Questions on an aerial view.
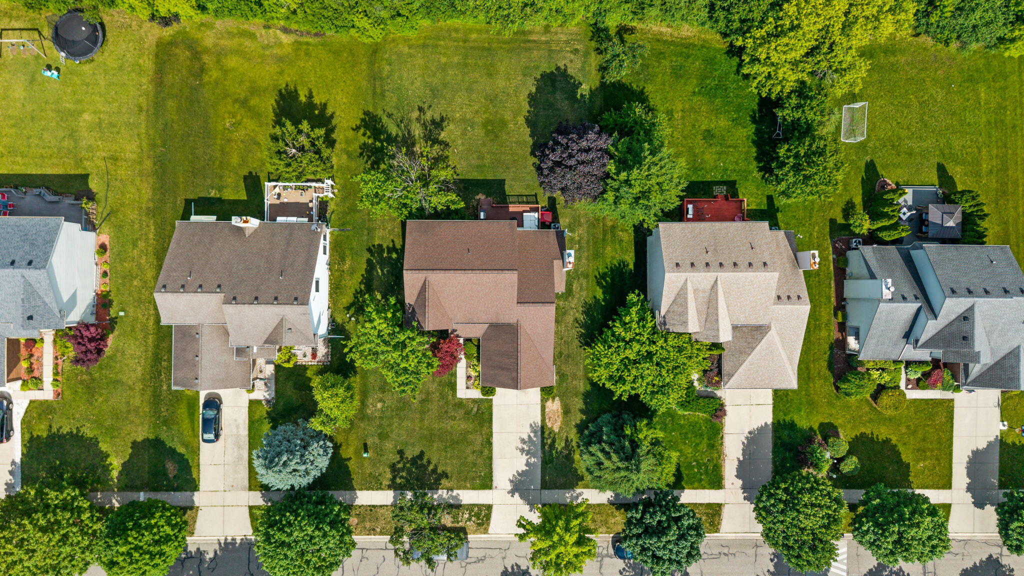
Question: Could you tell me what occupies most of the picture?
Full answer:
The scene is dominated by grass.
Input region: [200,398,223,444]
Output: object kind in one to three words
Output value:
car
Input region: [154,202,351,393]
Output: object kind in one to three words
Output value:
house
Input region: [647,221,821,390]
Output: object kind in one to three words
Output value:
house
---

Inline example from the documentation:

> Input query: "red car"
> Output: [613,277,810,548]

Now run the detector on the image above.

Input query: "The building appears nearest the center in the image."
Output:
[402,219,574,394]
